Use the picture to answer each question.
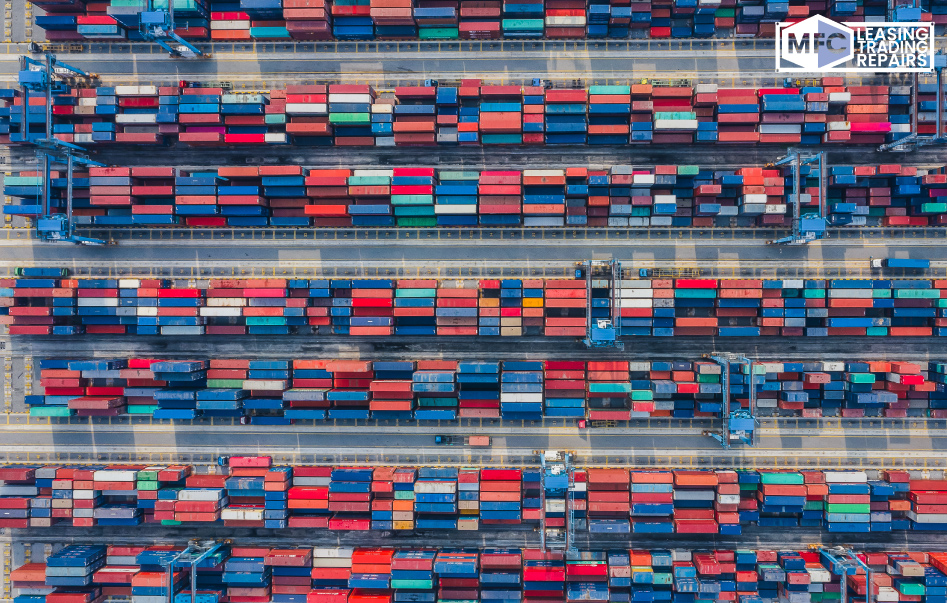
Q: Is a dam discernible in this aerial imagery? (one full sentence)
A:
No, this view has no dam in it.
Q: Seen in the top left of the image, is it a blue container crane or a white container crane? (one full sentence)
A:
There is a blue container crane in the top left of the image.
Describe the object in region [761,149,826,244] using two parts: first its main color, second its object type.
blue container crane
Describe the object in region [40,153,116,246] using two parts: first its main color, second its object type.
blue container crane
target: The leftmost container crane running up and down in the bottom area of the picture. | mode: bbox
[529,449,575,553]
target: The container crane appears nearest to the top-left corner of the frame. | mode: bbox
[19,55,96,156]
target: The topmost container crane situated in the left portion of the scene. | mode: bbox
[144,0,210,59]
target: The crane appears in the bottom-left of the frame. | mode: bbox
[162,538,229,603]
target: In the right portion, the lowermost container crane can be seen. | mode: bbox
[805,543,873,603]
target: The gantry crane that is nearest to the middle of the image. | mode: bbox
[571,257,621,348]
